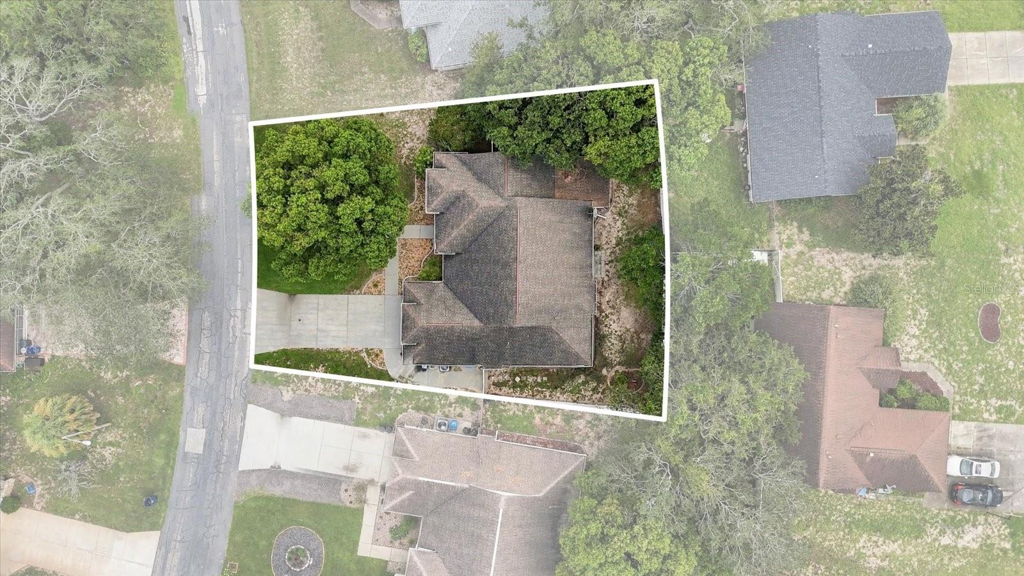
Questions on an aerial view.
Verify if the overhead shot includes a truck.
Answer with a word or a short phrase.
No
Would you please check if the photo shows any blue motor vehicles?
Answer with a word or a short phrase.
No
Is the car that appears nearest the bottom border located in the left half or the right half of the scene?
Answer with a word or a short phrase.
right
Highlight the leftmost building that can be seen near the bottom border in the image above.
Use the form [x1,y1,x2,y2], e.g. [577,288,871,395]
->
[384,425,587,576]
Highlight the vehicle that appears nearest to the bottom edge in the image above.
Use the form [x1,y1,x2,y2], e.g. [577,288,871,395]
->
[953,484,1008,511]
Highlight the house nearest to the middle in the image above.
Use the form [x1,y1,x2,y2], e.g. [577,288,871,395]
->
[400,150,611,370]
